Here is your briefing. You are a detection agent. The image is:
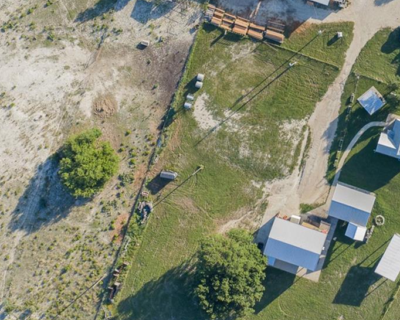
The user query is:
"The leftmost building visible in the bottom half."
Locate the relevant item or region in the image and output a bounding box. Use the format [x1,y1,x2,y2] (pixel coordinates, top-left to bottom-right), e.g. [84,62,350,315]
[264,215,328,271]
